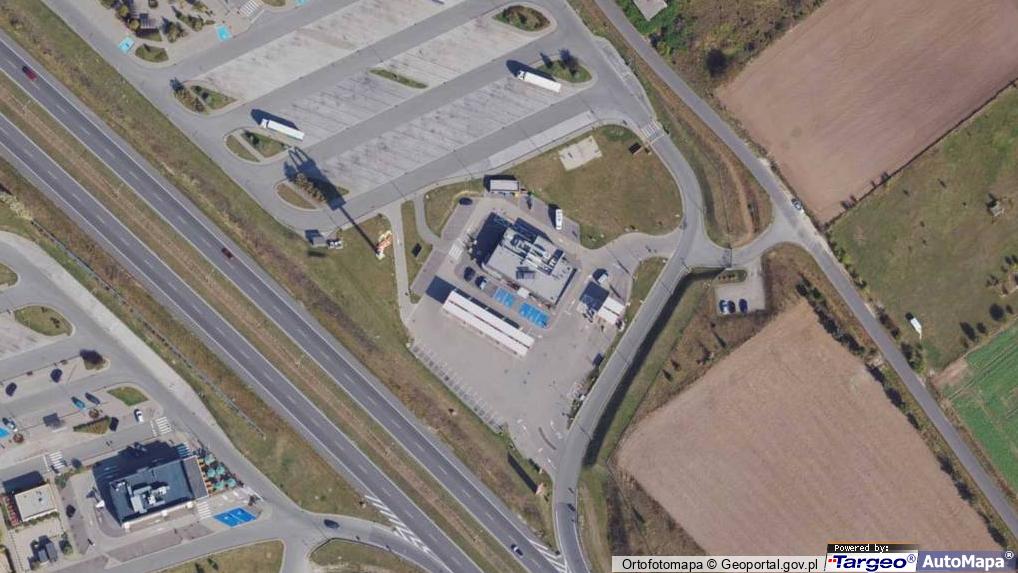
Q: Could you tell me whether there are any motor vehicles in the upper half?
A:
Yes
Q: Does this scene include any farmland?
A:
Yes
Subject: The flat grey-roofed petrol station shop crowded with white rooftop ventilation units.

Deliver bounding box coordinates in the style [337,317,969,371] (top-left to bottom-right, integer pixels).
[481,230,581,308]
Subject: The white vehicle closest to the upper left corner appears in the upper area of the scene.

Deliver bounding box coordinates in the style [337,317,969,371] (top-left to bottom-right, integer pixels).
[260,118,304,141]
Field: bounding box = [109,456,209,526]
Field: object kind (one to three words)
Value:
building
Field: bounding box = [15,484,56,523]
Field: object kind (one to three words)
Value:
building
